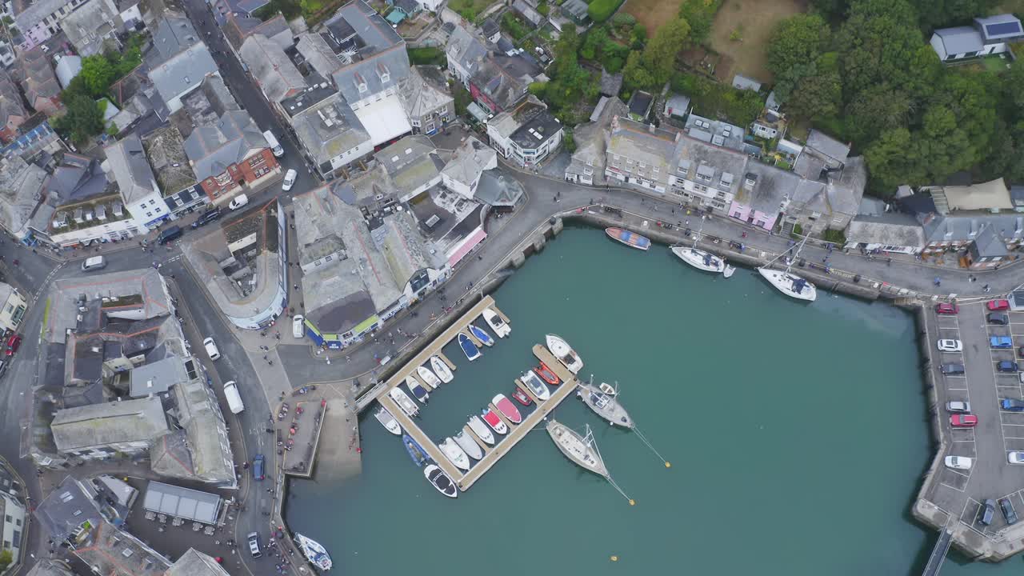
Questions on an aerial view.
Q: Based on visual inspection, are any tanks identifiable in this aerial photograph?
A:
No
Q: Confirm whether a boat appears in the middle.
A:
Yes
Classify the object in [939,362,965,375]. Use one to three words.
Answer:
vehicle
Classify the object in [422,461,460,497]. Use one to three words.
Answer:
boat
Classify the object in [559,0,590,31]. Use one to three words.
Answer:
shed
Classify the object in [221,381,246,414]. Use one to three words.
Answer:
vehicle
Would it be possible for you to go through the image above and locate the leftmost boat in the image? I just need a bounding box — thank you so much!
[290,532,335,572]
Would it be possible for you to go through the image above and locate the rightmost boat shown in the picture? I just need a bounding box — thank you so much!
[761,242,818,303]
